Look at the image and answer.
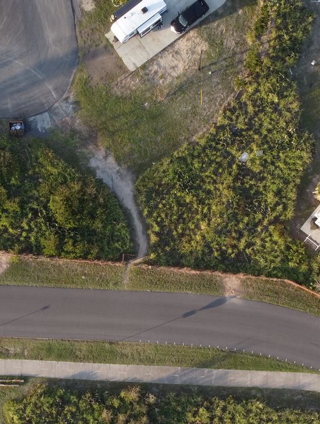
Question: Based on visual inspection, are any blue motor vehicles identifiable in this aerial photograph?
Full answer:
No, there appears to be no blue motor vehicle in this shot.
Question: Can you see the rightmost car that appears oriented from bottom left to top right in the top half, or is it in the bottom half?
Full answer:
The top half of the photo is where the rightmost car that appears oriented from bottom left to top right is.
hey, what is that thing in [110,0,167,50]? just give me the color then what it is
white vehicle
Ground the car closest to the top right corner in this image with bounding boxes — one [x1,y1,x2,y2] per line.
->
[171,0,207,32]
